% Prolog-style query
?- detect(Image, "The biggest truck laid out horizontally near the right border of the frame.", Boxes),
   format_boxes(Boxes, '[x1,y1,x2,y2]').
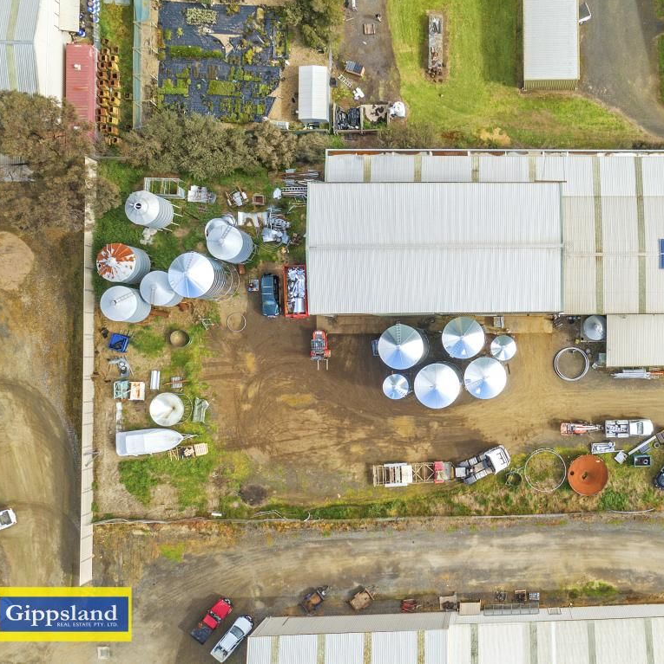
[605,417,655,439]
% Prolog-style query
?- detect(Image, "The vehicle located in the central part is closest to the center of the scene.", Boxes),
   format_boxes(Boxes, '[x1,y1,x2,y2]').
[312,331,330,364]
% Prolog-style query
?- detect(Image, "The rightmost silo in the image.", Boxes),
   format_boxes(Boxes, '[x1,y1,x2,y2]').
[581,315,605,340]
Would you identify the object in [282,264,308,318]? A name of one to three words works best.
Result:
trailer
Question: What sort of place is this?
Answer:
industrial area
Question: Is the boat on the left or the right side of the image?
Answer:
left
